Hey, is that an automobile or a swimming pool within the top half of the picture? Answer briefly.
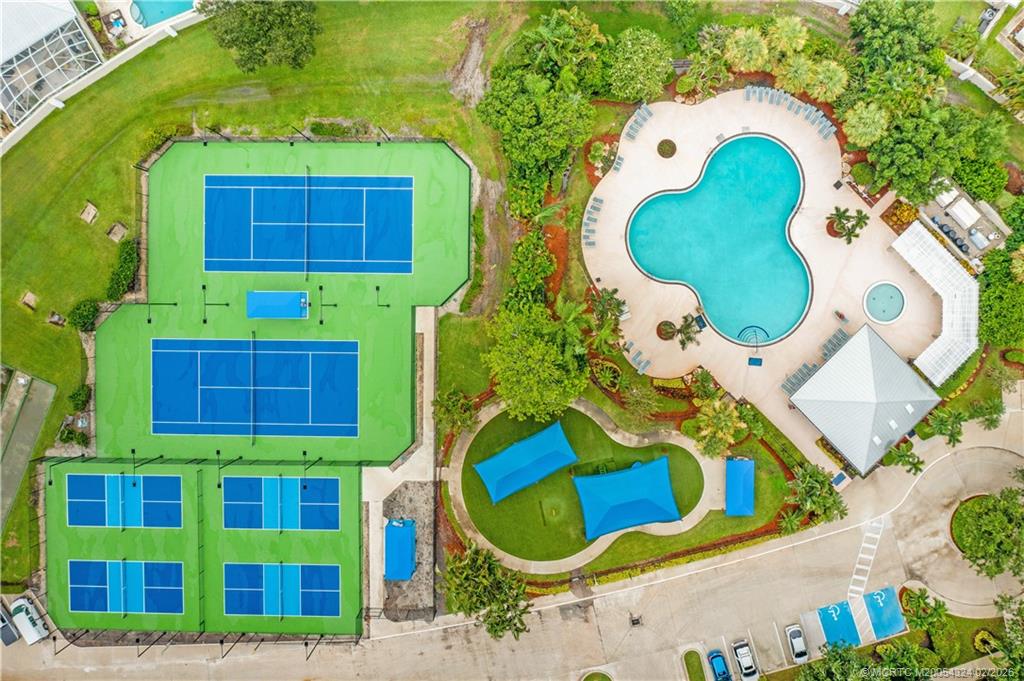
swimming pool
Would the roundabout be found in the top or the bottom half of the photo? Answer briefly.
bottom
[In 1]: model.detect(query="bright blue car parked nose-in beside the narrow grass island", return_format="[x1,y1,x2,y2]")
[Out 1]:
[705,653,730,681]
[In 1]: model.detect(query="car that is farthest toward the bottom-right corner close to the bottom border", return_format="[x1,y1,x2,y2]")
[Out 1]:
[784,624,809,664]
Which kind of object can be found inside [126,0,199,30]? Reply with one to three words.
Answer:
swimming pool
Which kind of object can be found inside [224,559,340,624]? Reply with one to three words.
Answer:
sports court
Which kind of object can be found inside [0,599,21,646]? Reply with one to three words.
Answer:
truck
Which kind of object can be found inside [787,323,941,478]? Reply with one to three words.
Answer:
building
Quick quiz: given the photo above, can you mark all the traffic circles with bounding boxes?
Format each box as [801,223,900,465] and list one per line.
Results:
[949,487,1024,576]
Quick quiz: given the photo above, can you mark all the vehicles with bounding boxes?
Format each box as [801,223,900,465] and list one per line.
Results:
[784,624,809,664]
[729,643,756,681]
[12,598,51,648]
[0,599,21,646]
[705,653,730,681]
